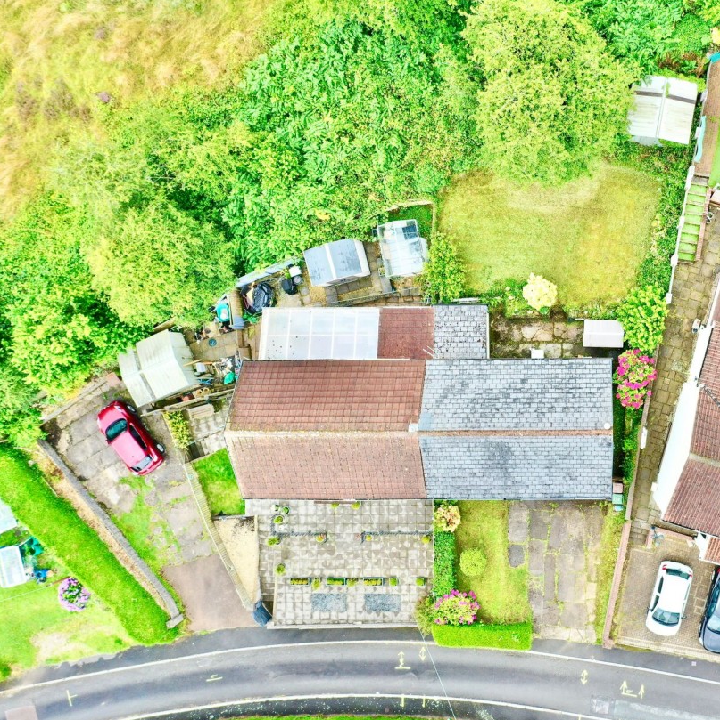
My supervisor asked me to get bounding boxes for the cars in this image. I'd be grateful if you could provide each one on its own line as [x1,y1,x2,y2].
[646,560,697,643]
[700,572,720,658]
[93,399,160,483]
